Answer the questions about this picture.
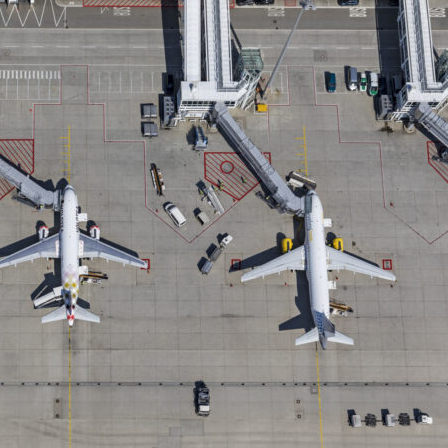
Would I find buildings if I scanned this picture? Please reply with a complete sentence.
Yes, there's a building down there.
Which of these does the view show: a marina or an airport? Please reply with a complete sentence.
It's an airport.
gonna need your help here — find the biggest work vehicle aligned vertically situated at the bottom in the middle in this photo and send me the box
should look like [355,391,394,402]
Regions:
[197,385,211,414]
